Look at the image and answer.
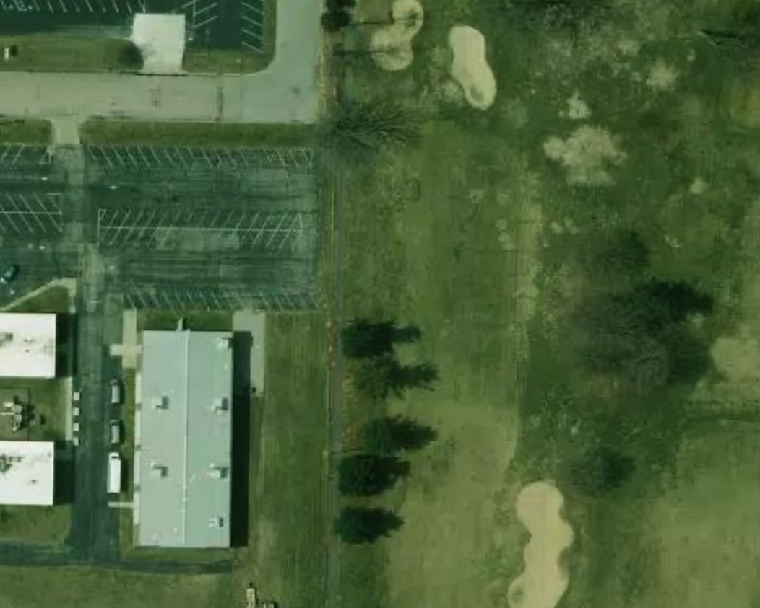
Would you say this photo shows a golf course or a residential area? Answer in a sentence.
What you see here is a golf course.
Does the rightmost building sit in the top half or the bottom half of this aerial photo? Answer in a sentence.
It is in the bottom half that the rightmost building appears.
